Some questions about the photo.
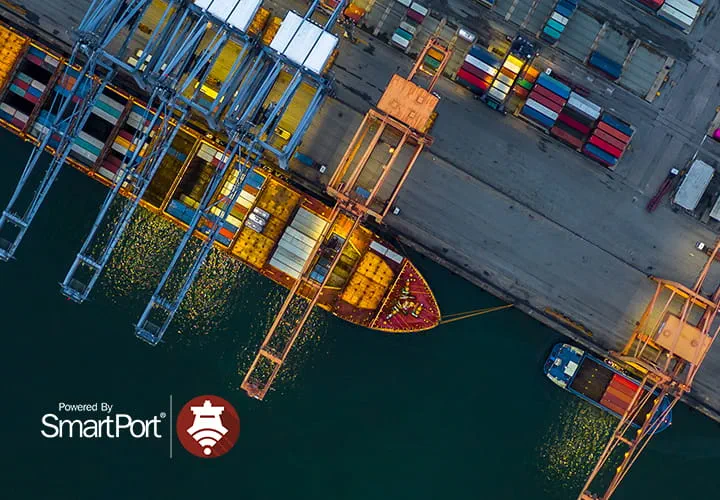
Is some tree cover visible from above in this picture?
No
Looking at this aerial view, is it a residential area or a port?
port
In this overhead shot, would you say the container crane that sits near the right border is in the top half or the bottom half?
bottom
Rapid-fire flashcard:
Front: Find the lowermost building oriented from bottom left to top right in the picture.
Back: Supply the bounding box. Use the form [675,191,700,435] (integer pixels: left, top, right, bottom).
[674,159,717,210]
